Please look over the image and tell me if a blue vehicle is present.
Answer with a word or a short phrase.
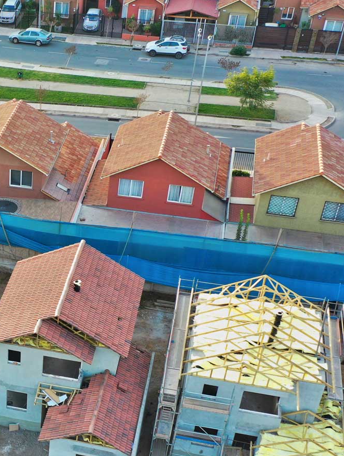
Yes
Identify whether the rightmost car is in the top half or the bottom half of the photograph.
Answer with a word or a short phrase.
top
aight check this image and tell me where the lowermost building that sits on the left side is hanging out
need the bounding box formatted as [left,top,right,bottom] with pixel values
[0,238,158,456]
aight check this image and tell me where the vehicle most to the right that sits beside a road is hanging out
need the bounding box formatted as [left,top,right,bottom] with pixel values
[144,34,191,58]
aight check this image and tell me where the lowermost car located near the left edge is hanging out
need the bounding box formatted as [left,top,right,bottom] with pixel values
[6,25,51,45]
